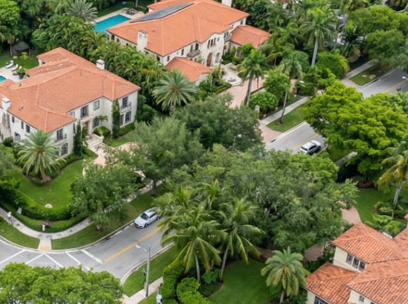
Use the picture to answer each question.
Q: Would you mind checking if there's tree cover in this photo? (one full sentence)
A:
Yes, there is tree cover in the image.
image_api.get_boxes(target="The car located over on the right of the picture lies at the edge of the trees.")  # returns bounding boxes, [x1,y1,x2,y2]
[302,137,325,155]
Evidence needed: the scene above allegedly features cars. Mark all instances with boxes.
[135,205,167,227]
[302,137,325,155]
